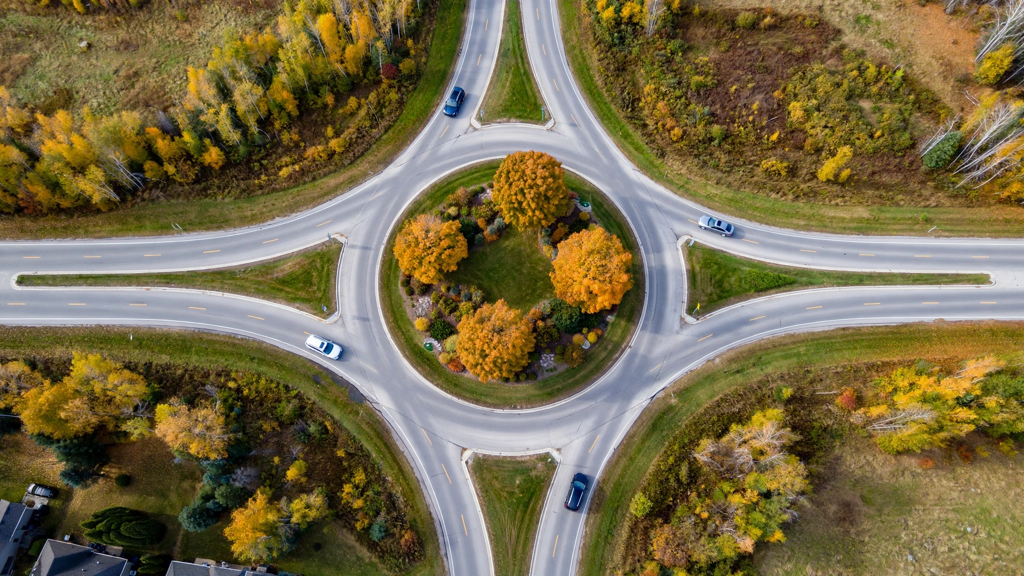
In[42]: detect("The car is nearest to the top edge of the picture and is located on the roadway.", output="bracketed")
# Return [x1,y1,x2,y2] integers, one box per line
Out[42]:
[443,88,466,119]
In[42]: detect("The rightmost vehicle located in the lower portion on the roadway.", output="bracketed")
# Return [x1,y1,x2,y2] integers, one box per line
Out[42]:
[563,473,589,514]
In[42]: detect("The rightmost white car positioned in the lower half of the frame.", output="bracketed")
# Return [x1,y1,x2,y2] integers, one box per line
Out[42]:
[304,334,343,360]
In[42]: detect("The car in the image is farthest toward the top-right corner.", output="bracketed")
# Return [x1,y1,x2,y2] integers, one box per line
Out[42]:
[697,217,735,239]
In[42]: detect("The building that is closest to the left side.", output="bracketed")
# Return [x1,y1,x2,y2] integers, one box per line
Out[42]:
[0,497,36,565]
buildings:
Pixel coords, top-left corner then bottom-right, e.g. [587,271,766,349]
[0,497,36,565]
[167,560,280,576]
[31,538,134,576]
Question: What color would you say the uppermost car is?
blue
